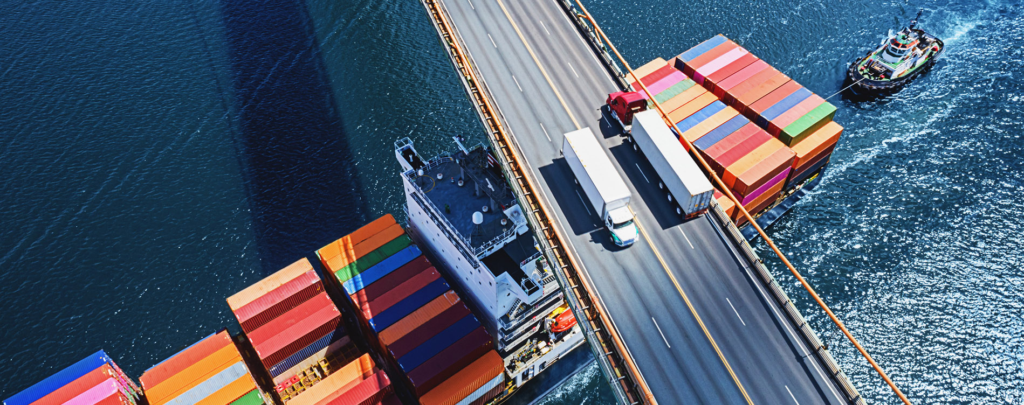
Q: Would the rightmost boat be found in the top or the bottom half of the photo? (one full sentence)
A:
The rightmost boat is in the top half of the image.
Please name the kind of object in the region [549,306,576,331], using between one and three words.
boat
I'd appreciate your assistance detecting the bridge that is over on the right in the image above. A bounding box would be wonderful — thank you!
[418,0,915,405]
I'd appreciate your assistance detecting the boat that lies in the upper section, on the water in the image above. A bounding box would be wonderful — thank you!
[843,6,949,94]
